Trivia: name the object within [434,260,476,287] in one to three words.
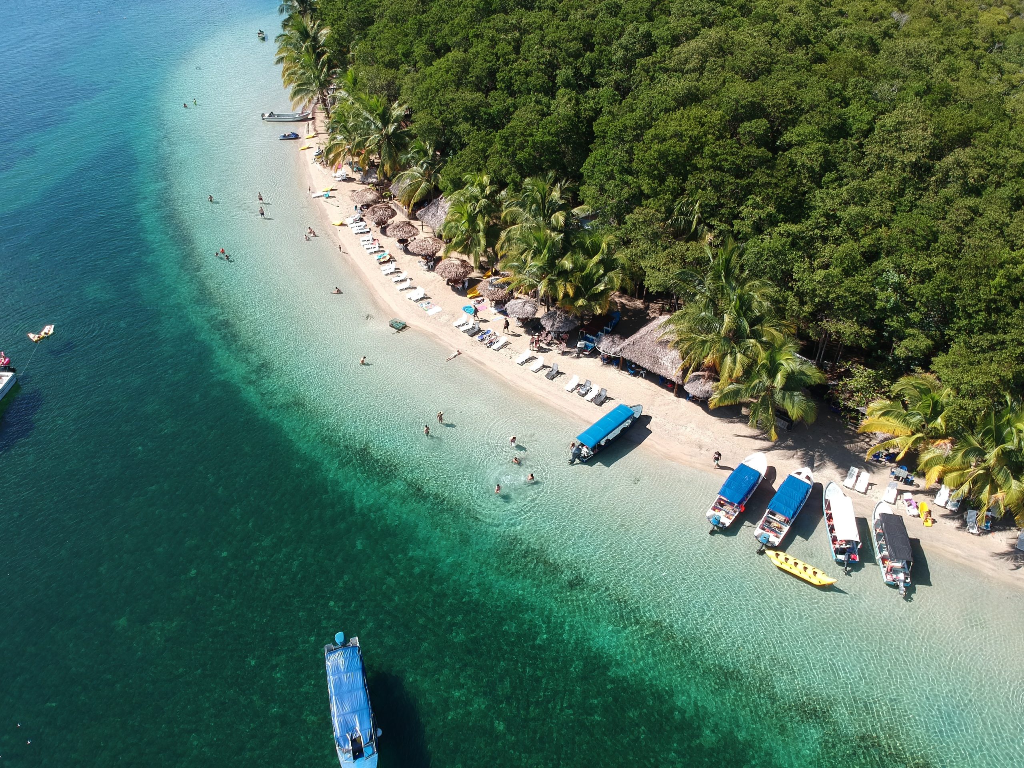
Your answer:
umbrella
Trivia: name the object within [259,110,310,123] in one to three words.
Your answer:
boat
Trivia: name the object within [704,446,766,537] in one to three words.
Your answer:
boat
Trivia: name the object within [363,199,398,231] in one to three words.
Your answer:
umbrella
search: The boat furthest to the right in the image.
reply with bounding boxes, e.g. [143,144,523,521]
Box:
[871,497,913,603]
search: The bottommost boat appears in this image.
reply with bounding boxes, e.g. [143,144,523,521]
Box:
[324,627,379,768]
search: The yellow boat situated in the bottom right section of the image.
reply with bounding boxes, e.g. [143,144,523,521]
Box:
[766,549,838,584]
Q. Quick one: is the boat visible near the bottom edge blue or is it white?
blue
